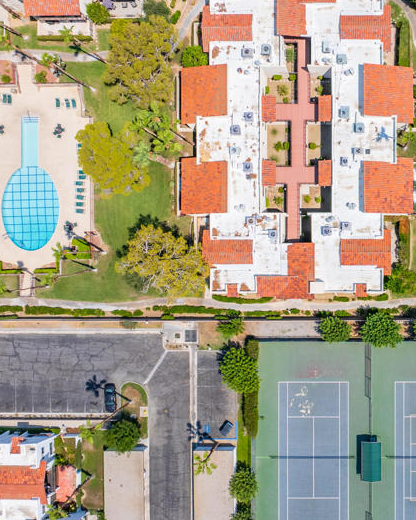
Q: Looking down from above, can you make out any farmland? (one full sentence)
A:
No, farmland can't be seen anywhere here.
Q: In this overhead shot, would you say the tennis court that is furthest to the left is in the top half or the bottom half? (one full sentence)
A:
The bottom half of the photo is where the tennis court that is furthest to the left is.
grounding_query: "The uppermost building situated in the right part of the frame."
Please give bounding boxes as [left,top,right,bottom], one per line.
[181,0,414,298]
